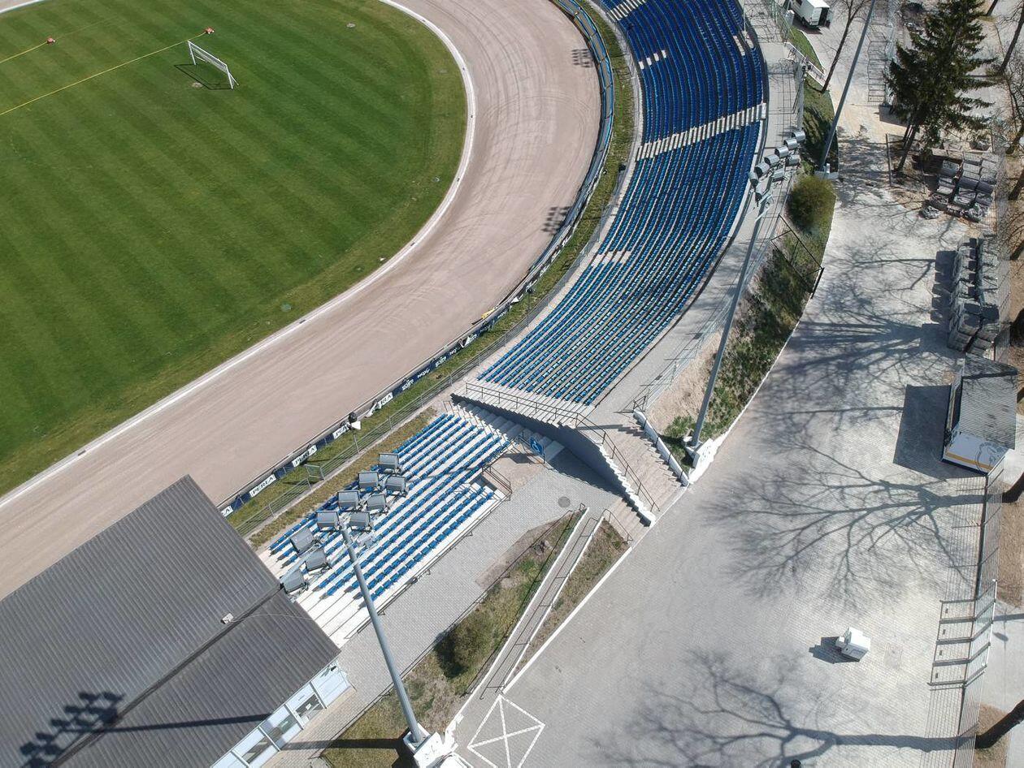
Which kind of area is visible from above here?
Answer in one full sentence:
This looks like a sports ground.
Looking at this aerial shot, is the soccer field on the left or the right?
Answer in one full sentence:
The soccer field sits on the left side.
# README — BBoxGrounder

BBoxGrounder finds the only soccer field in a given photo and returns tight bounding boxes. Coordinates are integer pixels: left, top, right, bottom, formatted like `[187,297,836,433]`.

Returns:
[0,0,469,509]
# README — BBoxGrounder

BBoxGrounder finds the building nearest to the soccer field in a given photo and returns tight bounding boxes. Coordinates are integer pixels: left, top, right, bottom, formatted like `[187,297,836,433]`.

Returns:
[0,476,359,768]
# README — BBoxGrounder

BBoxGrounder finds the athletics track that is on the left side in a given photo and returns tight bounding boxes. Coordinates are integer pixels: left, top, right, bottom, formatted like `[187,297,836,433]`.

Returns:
[0,0,600,602]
